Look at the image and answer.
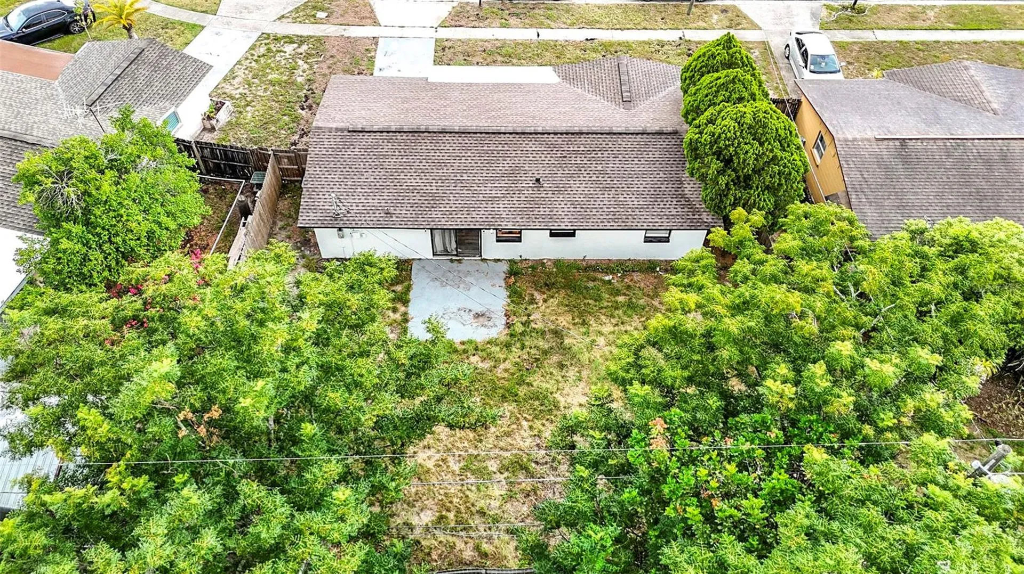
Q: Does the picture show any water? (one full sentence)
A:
No, water can't be seen anywhere here.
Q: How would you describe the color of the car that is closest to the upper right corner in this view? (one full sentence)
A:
The car that is closest to the upper right corner is white.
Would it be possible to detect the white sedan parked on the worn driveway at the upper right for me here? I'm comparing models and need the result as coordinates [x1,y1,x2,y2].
[787,28,847,77]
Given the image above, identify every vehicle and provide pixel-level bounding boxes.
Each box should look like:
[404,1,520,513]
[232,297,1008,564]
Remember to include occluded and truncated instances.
[787,28,847,77]
[0,0,92,45]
